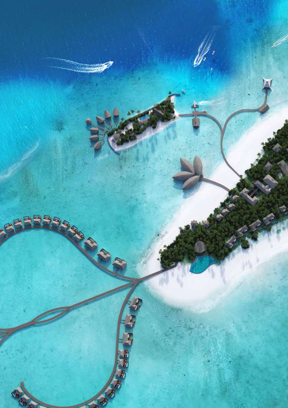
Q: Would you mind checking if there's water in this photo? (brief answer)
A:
Yes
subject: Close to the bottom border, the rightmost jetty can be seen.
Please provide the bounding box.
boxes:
[20,280,139,408]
